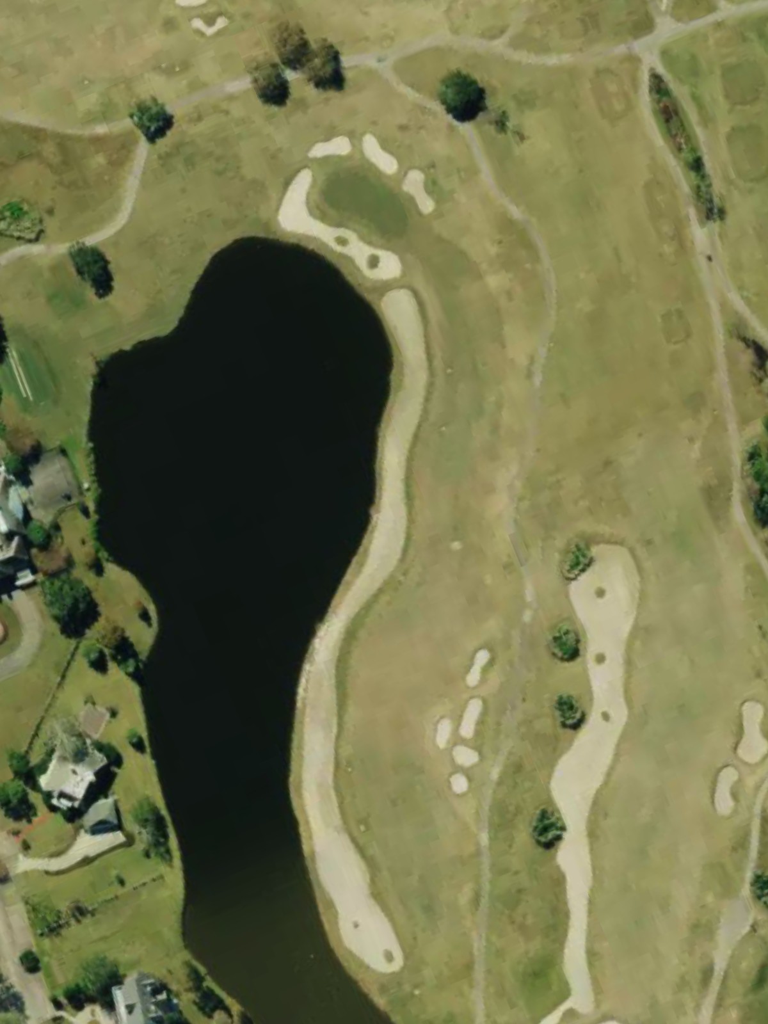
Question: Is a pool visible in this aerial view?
No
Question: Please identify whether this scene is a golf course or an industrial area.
golf course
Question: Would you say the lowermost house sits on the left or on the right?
left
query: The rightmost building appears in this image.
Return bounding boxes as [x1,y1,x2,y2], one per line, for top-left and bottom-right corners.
[112,972,171,1024]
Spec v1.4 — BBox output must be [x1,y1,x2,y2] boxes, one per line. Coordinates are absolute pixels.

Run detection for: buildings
[0,456,29,560]
[112,972,171,1024]
[36,740,113,813]
[82,798,120,837]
